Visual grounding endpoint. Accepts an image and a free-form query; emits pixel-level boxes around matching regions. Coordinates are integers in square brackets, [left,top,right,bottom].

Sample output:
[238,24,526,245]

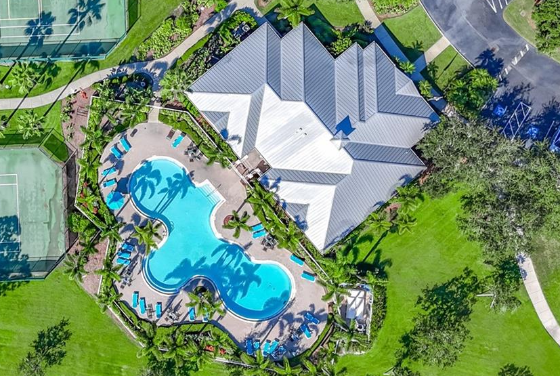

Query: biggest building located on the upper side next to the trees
[189,22,444,252]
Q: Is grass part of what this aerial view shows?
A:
Yes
